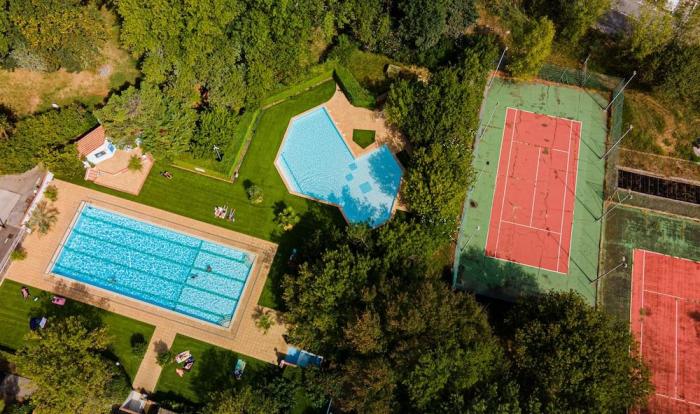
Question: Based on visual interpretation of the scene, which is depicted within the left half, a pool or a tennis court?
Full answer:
There is a pool within the left half.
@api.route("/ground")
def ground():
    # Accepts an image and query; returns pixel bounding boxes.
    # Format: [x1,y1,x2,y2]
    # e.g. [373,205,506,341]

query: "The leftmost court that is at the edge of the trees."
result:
[450,75,610,320]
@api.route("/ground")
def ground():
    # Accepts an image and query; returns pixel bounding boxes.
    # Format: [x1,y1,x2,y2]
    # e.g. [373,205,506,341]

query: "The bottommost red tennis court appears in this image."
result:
[598,202,700,414]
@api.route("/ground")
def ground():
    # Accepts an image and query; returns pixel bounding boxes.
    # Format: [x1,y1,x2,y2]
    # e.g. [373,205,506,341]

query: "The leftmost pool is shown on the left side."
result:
[39,196,268,338]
